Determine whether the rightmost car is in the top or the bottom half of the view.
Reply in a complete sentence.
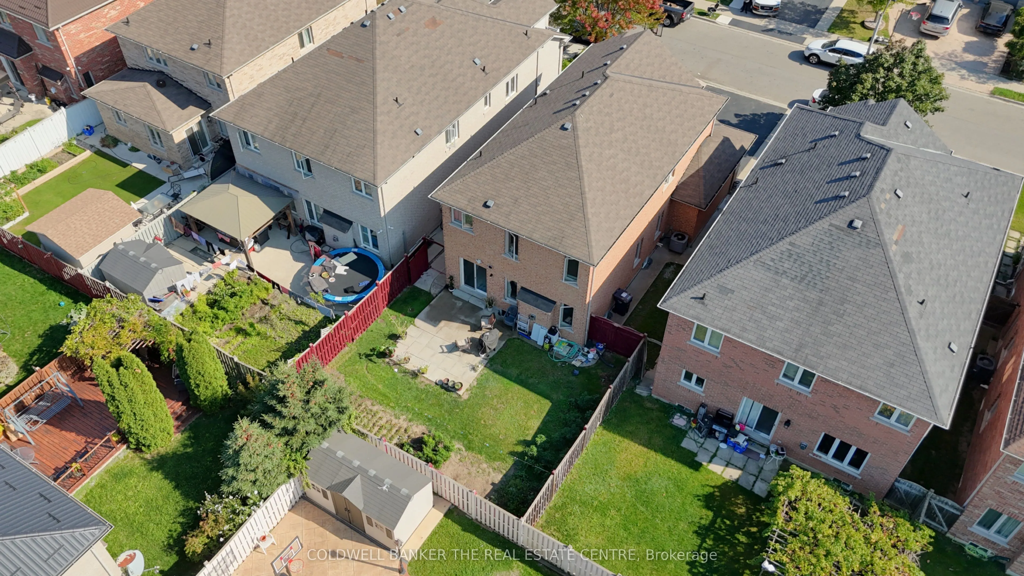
The top half of the photo is where the rightmost car is.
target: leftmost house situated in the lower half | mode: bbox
[0,443,120,576]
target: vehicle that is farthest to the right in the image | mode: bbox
[980,1,1021,38]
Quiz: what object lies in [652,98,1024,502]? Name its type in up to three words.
house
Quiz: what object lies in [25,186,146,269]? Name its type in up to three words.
shed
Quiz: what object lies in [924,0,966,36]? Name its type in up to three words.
car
